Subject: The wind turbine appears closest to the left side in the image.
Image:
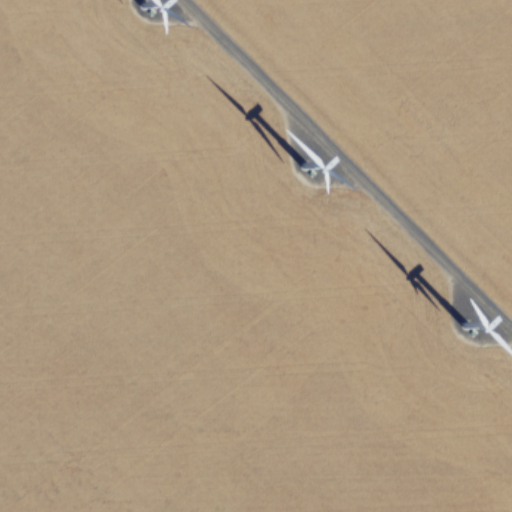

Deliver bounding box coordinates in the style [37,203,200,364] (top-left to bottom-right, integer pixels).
[138,0,194,32]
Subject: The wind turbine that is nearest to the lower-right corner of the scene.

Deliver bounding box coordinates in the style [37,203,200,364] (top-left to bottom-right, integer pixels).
[460,300,512,354]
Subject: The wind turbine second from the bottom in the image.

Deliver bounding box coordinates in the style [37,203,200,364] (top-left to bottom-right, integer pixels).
[287,128,358,193]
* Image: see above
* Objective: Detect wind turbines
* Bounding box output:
[460,300,512,354]
[287,128,358,193]
[138,0,194,32]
